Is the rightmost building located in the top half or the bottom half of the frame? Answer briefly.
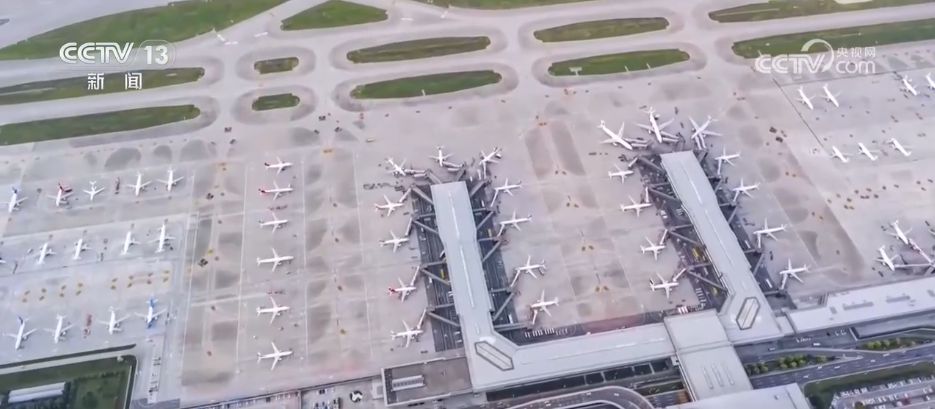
bottom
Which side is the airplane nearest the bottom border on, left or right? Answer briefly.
left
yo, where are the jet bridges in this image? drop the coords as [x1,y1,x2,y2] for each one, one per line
[646,182,678,203]
[763,273,787,297]
[405,169,442,184]
[410,260,451,286]
[894,238,935,278]
[405,213,439,236]
[659,225,699,246]
[416,302,461,330]
[400,184,434,204]
[625,138,665,154]
[695,133,707,163]
[674,263,725,289]
[443,161,467,182]
[743,233,762,272]
[720,190,739,223]
[708,159,722,193]
[473,189,498,230]
[496,309,537,331]
[660,131,682,152]
[478,223,505,261]
[489,271,520,320]
[470,162,489,197]
[629,154,666,173]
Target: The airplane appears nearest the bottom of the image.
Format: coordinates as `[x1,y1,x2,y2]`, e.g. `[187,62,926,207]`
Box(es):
[258,339,292,369]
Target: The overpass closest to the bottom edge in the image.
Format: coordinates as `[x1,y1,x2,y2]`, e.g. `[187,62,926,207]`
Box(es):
[502,387,655,409]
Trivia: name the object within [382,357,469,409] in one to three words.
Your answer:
building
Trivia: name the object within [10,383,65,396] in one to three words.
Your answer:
shed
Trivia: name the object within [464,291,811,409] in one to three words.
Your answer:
building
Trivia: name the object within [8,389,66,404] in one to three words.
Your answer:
shed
